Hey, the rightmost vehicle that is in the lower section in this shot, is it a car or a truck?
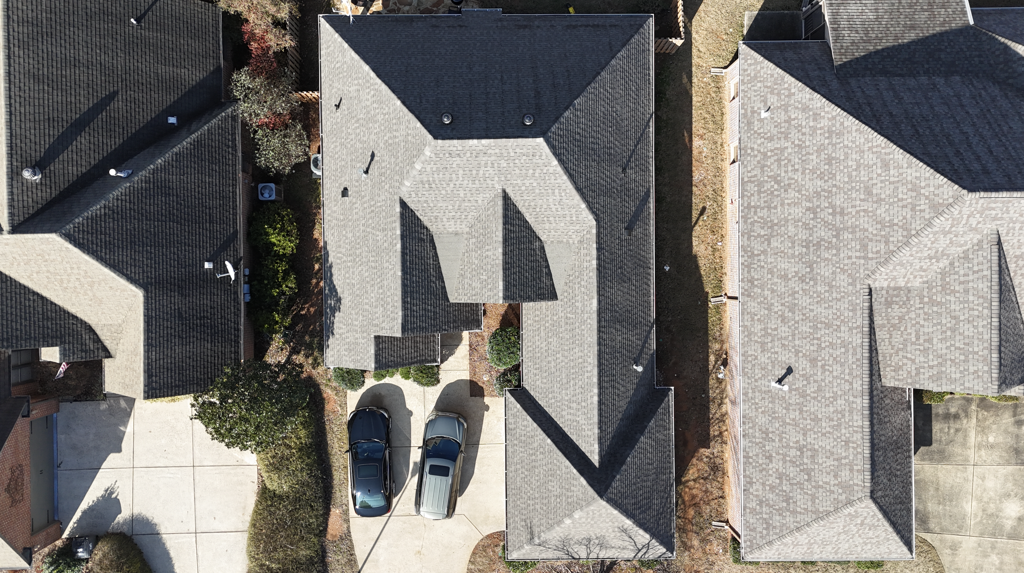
car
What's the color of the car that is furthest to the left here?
black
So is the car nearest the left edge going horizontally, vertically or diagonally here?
vertically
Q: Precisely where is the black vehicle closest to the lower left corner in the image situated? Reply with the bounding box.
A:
[344,406,396,517]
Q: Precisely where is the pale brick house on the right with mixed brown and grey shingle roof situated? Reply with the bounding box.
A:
[723,0,1024,561]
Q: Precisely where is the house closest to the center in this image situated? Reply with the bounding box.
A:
[319,8,676,561]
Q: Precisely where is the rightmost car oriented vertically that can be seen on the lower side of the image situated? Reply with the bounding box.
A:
[416,411,469,518]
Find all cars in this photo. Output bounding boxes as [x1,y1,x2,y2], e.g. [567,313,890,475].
[416,411,469,518]
[344,406,396,517]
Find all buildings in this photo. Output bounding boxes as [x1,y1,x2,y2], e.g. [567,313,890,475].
[723,0,1024,561]
[0,0,251,567]
[319,8,676,561]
